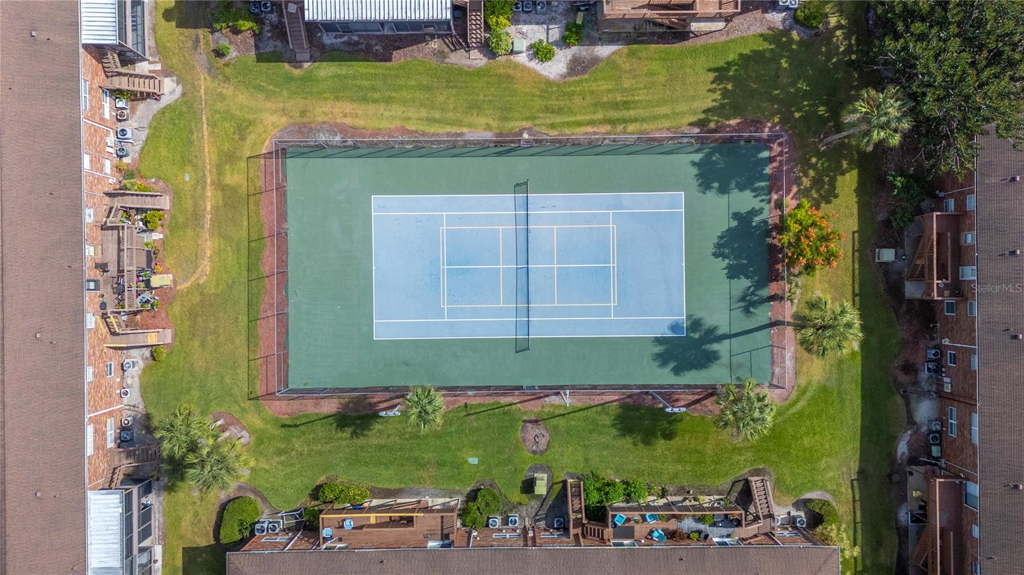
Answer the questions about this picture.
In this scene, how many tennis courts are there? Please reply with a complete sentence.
The picture shows just 1 tennis court.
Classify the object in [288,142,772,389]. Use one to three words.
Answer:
tennis court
